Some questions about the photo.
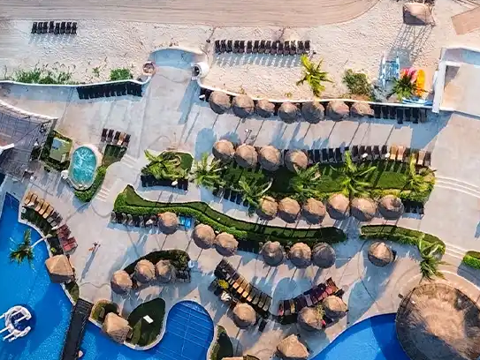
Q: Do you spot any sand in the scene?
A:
Yes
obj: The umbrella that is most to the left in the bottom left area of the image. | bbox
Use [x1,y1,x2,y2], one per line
[112,268,136,292]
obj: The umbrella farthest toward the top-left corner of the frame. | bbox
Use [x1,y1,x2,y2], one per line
[210,90,234,113]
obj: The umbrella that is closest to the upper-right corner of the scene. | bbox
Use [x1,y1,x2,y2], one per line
[351,98,373,121]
